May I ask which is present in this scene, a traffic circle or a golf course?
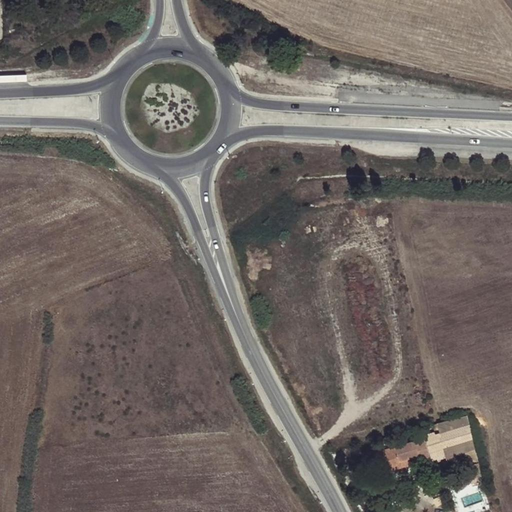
traffic circle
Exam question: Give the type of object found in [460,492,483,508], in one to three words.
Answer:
swimming pool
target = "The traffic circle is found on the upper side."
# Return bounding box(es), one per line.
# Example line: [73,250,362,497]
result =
[100,38,240,178]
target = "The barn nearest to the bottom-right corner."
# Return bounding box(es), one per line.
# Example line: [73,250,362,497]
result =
[428,416,479,464]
